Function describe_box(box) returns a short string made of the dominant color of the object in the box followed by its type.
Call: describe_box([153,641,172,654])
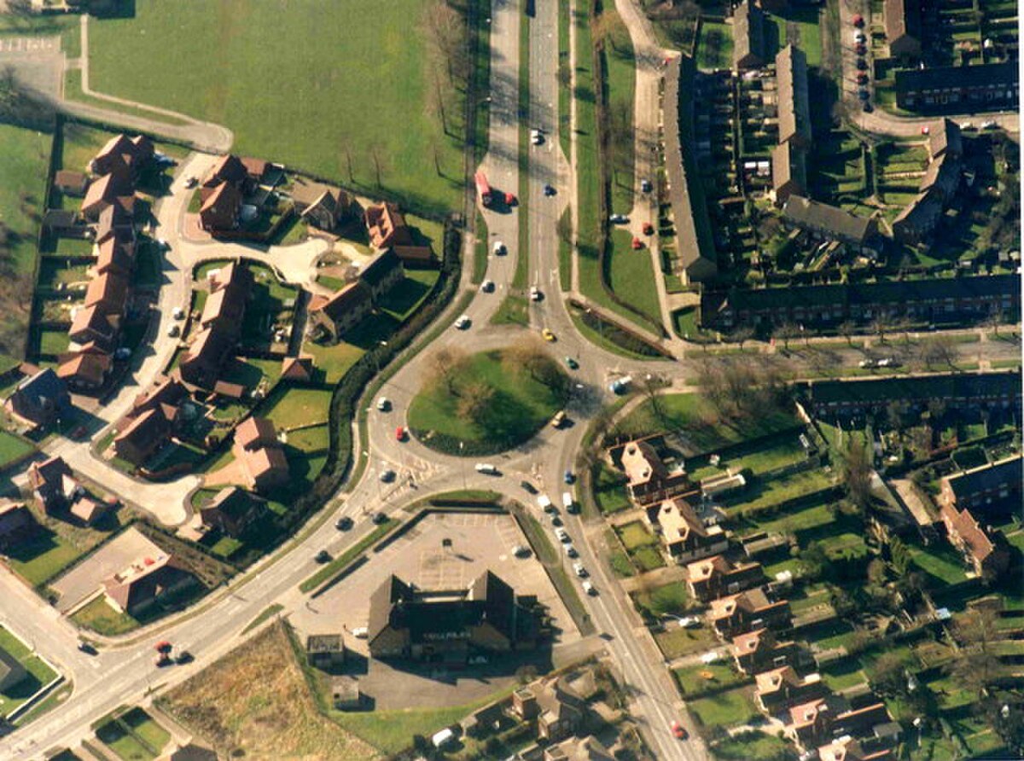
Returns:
red vehicle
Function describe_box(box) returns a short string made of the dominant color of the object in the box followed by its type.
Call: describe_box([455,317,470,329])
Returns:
white vehicle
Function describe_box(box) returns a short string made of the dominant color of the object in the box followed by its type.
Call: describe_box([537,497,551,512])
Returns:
white vehicle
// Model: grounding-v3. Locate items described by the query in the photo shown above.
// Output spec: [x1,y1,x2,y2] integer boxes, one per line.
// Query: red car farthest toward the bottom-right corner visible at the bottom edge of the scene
[672,724,685,740]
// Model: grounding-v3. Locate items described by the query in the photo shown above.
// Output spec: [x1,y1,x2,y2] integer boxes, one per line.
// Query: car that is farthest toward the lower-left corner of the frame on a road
[78,642,96,655]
